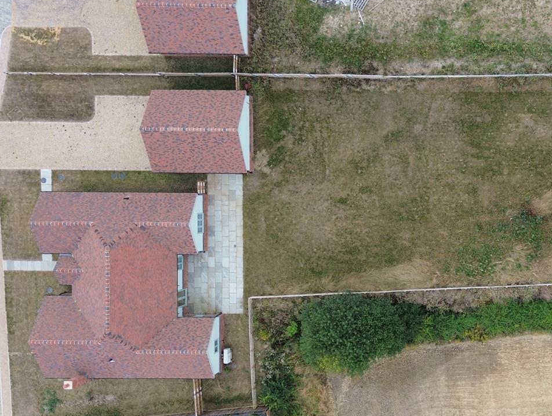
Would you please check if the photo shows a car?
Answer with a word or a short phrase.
No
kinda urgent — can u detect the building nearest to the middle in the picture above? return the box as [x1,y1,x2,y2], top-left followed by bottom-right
[139,88,253,174]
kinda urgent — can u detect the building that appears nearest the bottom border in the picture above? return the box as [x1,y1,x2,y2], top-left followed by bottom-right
[27,191,225,390]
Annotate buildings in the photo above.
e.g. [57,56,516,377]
[27,191,225,390]
[137,0,252,58]
[139,88,253,174]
